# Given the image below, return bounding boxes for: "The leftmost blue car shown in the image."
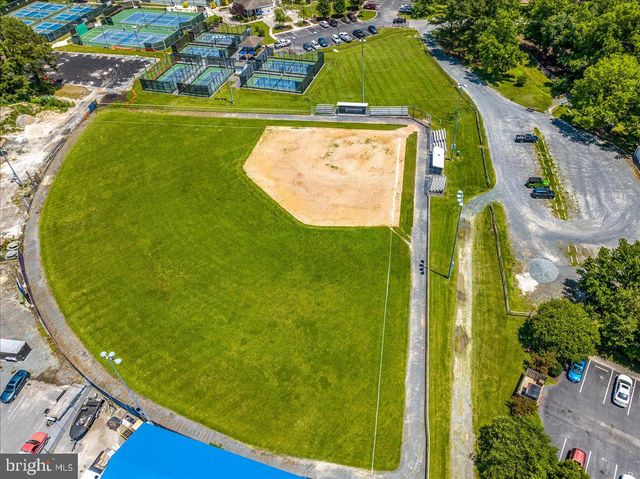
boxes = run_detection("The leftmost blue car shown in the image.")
[0,372,29,405]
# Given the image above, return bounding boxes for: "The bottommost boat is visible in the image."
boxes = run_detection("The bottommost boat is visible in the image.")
[71,393,104,440]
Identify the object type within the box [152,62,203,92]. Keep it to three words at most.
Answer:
sports court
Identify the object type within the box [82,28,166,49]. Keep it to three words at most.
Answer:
tennis court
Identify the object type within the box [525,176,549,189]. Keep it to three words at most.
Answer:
vehicle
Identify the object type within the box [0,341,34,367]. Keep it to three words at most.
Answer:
trailer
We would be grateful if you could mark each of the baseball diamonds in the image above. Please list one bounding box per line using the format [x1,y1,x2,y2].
[21,106,429,479]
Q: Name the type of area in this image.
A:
sports ground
